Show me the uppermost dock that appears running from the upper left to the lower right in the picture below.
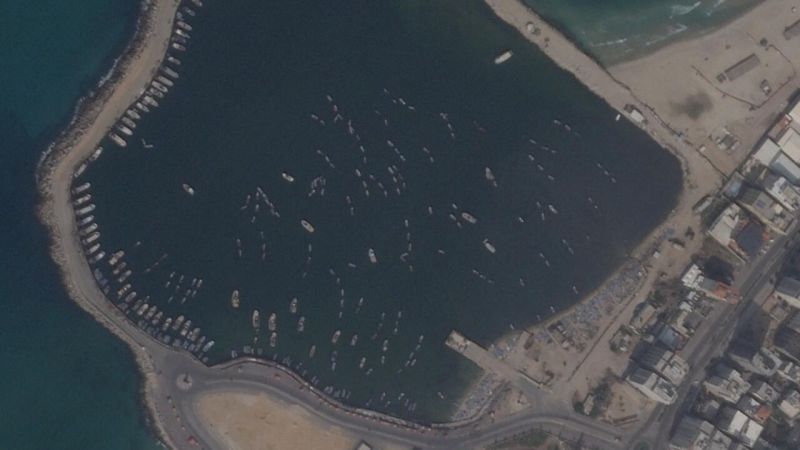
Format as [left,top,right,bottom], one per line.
[445,331,511,379]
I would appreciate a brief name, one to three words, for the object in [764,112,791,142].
house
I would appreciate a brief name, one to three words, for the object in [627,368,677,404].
building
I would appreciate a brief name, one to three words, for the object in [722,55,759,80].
building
